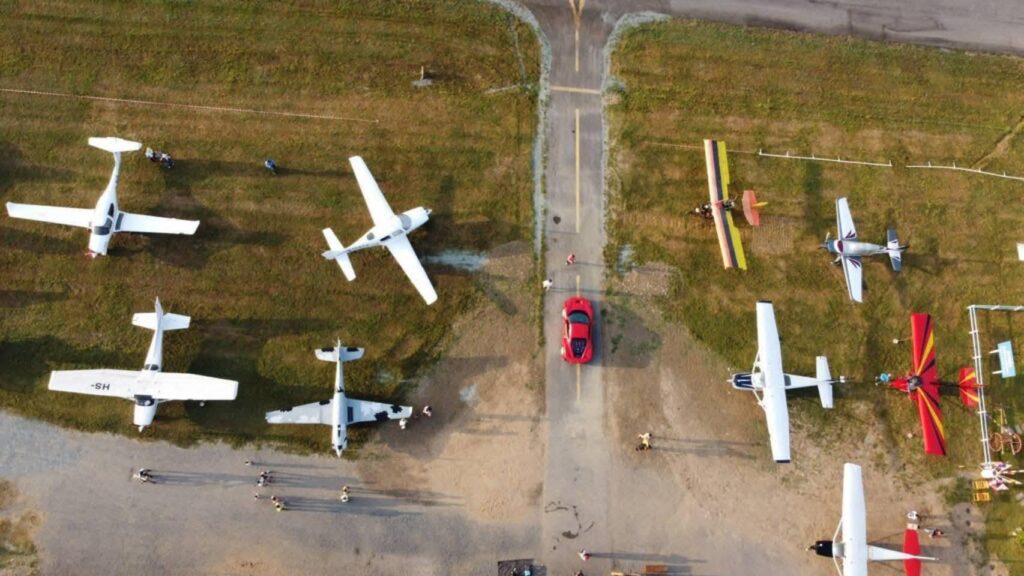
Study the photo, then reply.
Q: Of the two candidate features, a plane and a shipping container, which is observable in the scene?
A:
plane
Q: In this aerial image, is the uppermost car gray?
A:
No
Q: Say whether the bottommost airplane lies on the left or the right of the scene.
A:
right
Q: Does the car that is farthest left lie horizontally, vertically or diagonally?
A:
vertically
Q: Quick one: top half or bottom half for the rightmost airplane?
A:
bottom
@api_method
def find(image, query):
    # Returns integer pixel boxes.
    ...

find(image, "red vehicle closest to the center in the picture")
[562,297,596,367]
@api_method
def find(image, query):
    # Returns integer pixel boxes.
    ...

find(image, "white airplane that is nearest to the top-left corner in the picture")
[7,133,196,260]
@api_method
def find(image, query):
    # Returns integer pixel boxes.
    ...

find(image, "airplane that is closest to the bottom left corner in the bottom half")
[48,296,238,433]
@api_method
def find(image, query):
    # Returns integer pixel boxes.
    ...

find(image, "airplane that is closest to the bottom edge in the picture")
[803,464,936,576]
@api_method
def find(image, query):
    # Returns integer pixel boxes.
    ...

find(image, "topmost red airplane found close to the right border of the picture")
[883,313,993,454]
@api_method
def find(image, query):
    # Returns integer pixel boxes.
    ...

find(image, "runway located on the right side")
[549,0,1024,50]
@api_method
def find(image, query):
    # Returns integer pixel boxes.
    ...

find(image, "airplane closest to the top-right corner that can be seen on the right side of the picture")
[817,197,914,303]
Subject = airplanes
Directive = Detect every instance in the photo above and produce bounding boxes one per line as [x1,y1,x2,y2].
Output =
[803,464,936,576]
[817,197,914,303]
[319,156,435,304]
[266,336,411,458]
[685,142,772,268]
[726,301,852,462]
[7,133,196,260]
[883,313,993,454]
[48,296,238,433]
